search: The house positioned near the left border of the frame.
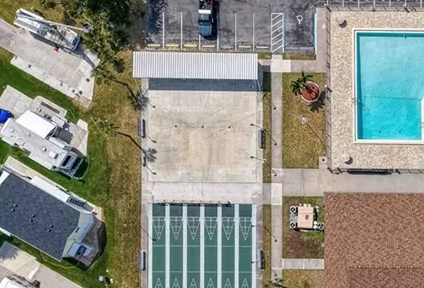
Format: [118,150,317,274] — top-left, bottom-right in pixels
[0,171,103,261]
